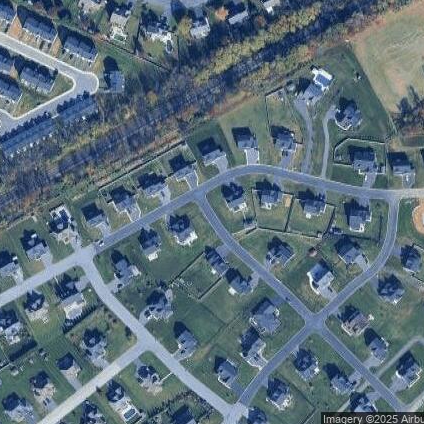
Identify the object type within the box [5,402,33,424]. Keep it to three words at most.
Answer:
house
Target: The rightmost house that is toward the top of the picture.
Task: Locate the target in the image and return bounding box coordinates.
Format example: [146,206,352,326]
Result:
[393,158,414,177]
